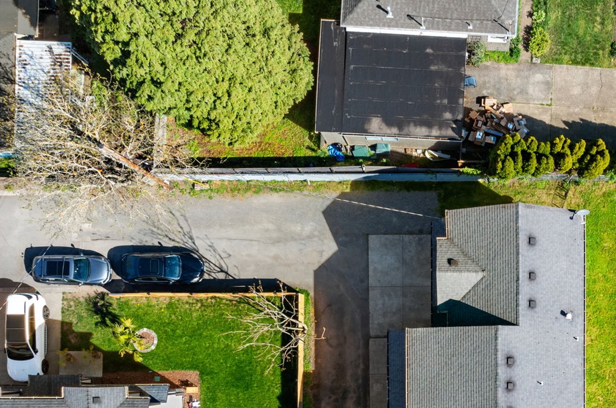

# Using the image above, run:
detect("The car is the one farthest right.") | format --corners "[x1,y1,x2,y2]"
[121,247,207,288]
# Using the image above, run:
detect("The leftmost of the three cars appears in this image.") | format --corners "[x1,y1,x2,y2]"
[2,295,51,381]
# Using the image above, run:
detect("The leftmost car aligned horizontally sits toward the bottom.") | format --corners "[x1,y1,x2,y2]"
[30,248,114,288]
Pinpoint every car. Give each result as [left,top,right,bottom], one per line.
[30,248,114,288]
[121,247,207,288]
[2,295,51,381]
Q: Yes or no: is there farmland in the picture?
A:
No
